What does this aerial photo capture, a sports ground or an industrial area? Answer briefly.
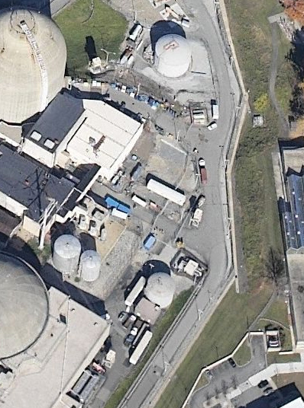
industrial area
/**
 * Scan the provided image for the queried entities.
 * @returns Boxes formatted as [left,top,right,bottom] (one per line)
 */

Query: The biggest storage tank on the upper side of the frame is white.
[154,35,193,79]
